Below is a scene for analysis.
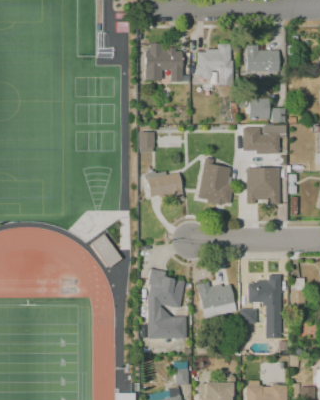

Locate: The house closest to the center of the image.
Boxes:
[144,168,182,199]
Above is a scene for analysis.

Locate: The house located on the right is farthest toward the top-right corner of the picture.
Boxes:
[240,45,280,76]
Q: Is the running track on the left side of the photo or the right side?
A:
left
